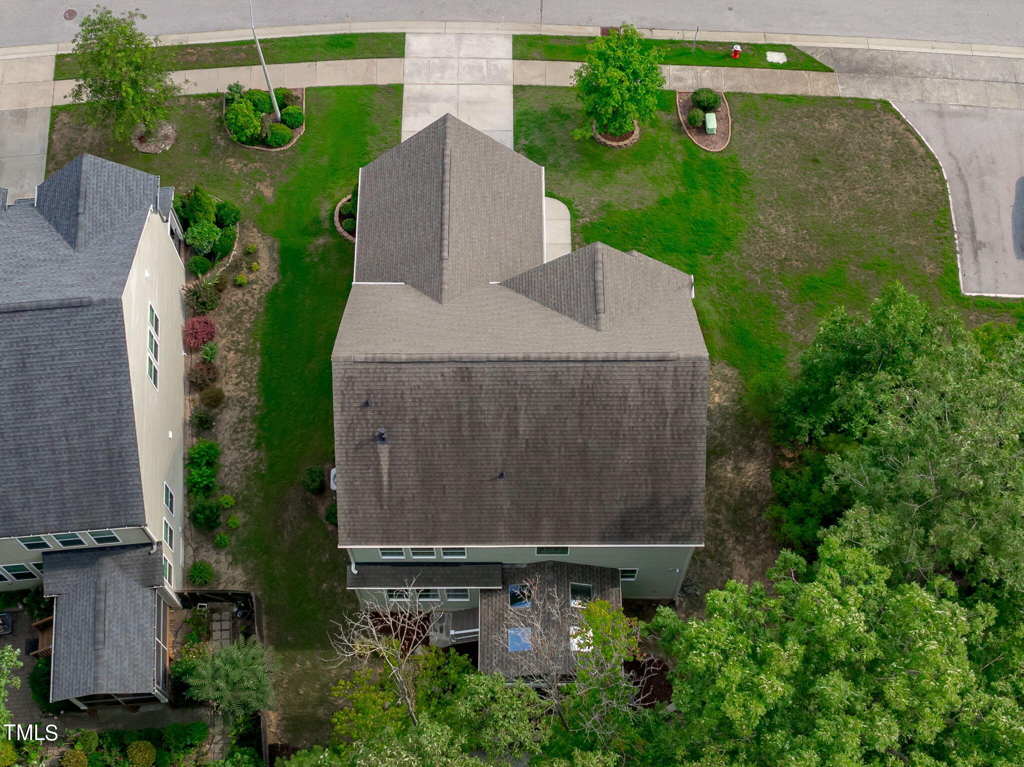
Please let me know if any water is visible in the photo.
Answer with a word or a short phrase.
No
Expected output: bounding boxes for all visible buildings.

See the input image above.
[0,150,189,713]
[332,115,713,693]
